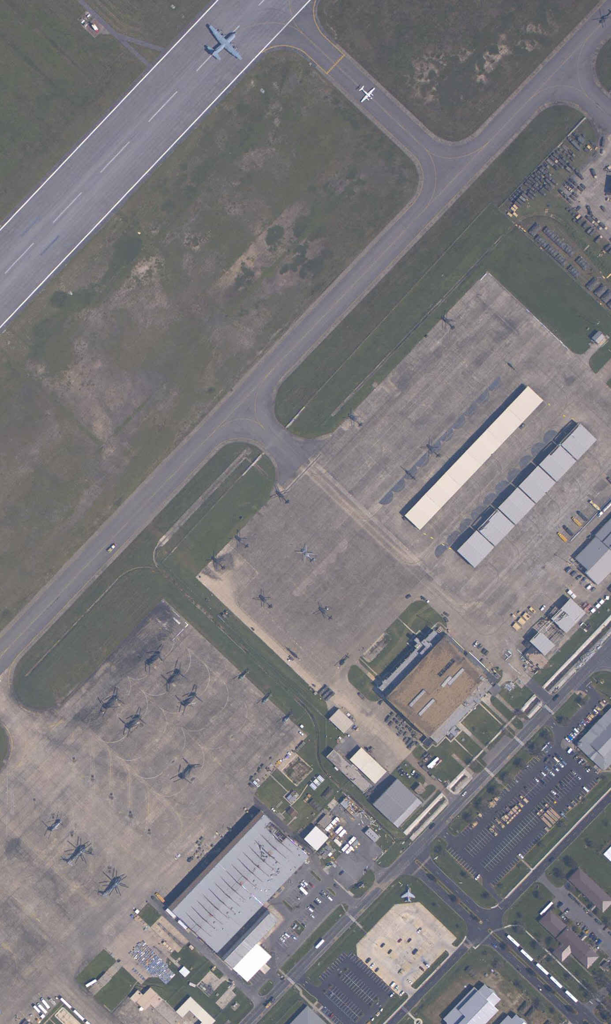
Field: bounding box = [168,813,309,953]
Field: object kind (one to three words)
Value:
hangar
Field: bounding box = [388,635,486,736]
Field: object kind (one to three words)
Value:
building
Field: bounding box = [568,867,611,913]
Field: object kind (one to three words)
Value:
house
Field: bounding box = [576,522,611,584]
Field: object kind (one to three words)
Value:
building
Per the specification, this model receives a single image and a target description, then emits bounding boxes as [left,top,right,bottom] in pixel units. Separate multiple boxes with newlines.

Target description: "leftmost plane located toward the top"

[206,25,241,61]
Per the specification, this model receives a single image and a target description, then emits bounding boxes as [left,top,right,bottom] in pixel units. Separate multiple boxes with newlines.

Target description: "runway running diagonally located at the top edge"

[0,0,310,328]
